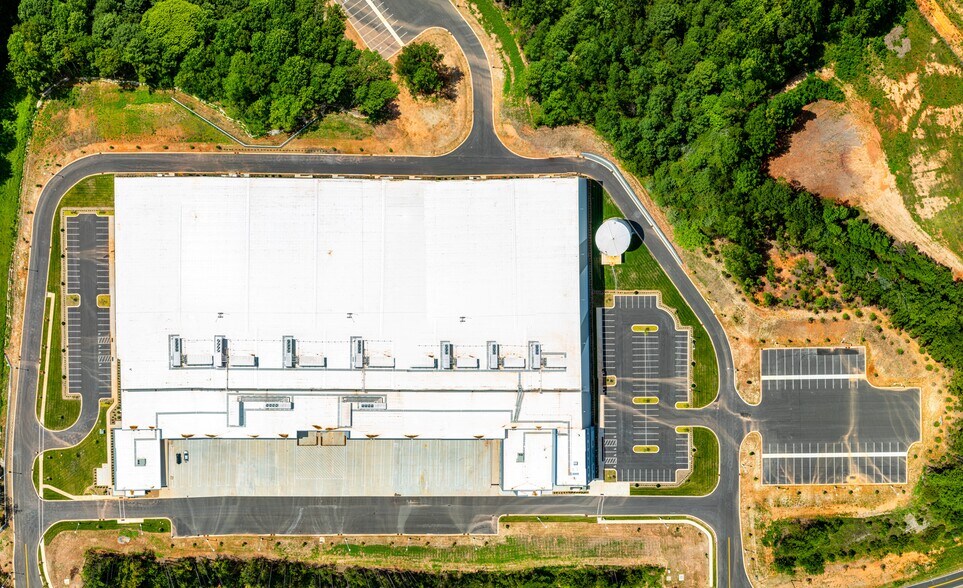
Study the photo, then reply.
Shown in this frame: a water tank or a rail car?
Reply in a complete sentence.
There is a water tank in the scene.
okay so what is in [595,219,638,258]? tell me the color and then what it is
white water tank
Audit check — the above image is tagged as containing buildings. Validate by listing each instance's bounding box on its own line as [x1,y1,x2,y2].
[115,177,590,440]
[601,255,624,265]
